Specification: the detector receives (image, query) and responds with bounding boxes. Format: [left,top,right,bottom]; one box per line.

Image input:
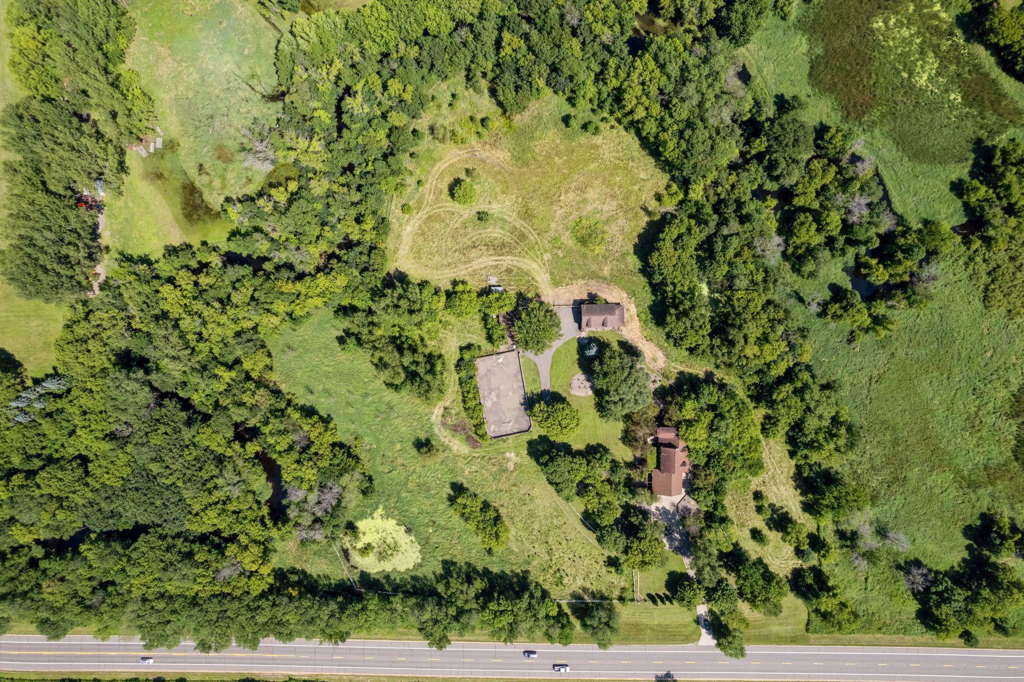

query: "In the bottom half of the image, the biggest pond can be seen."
[350,503,423,574]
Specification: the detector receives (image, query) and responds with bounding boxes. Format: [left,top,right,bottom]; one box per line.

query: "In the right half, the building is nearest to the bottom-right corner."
[652,427,690,497]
